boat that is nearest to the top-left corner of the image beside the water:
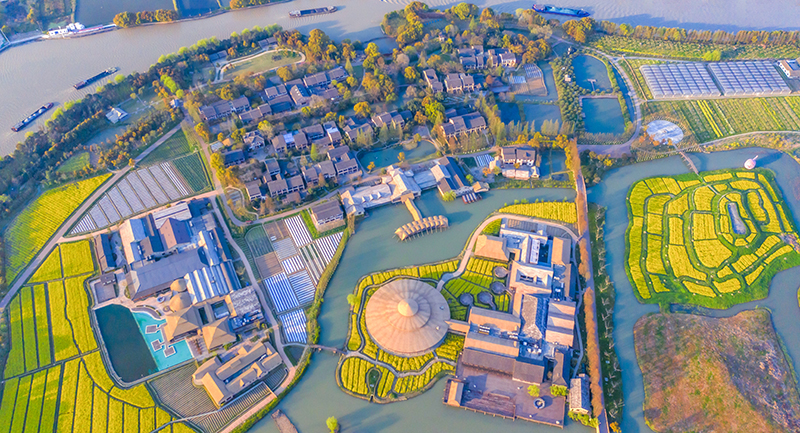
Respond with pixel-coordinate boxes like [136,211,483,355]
[45,22,87,38]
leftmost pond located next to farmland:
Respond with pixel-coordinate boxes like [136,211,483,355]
[94,300,159,388]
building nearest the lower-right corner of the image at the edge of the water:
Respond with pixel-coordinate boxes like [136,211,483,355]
[568,379,588,414]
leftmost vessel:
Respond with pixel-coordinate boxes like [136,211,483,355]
[8,102,54,131]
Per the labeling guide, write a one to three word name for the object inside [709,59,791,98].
greenhouse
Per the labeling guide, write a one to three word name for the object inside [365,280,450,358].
building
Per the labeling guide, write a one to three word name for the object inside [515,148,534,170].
house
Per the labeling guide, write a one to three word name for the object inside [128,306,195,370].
swimming pool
